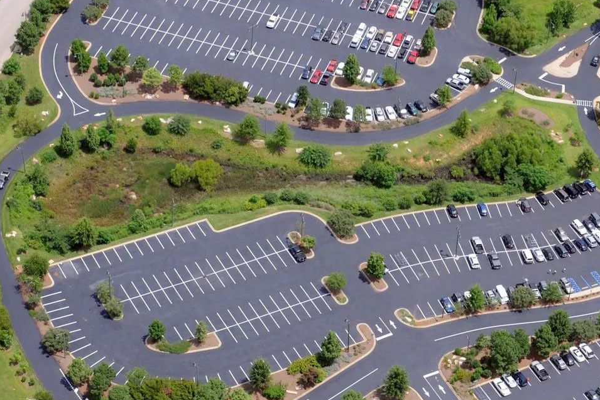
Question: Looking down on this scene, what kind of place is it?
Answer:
parking lot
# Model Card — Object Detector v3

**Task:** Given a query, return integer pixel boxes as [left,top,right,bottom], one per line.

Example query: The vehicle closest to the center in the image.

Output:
[289,240,303,259]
